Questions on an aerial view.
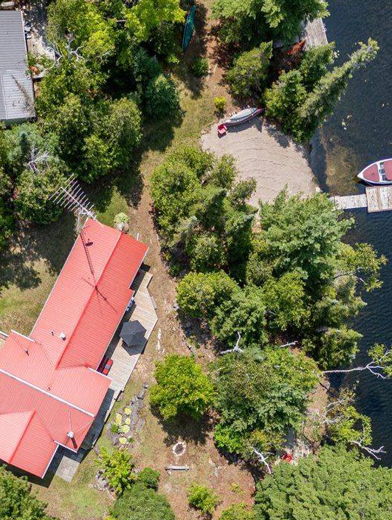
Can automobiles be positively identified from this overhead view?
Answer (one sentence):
No, no automobile is visible in the scene.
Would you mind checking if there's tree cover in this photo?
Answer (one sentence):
Yes, some tree cover is visible.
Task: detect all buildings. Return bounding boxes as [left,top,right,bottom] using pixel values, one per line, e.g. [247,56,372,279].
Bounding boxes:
[0,10,36,123]
[0,218,148,478]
